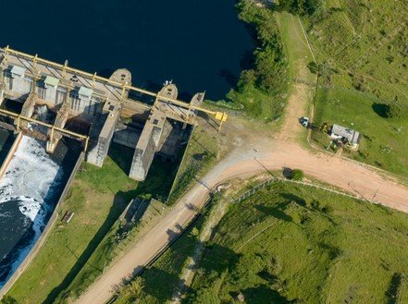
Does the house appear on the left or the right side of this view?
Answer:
right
